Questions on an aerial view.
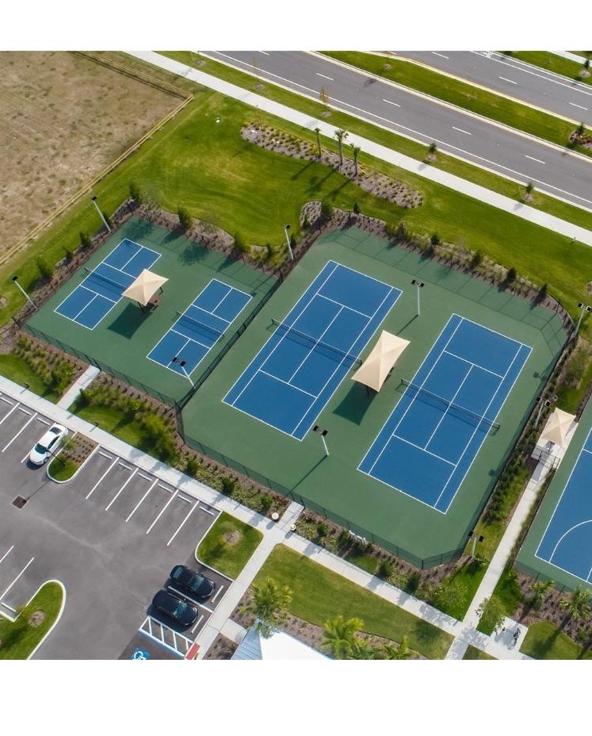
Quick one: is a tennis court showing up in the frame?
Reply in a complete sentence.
Yes, there's a tennis court here.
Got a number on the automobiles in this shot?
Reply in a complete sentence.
In total, 3 automobiles can be seen.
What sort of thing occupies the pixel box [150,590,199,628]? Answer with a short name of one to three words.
car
